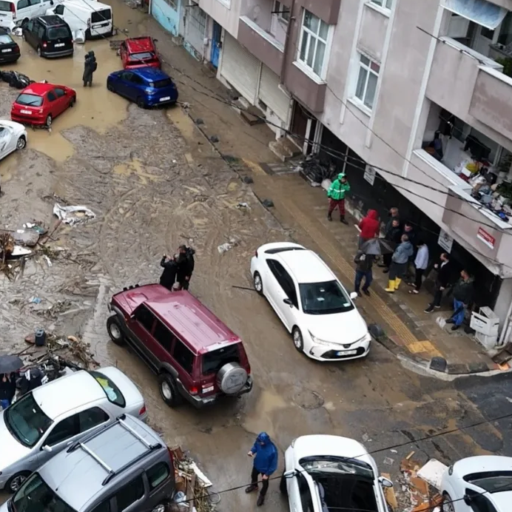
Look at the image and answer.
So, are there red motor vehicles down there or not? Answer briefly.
Yes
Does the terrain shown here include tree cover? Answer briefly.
No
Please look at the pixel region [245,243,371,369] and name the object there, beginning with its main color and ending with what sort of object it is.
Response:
white car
